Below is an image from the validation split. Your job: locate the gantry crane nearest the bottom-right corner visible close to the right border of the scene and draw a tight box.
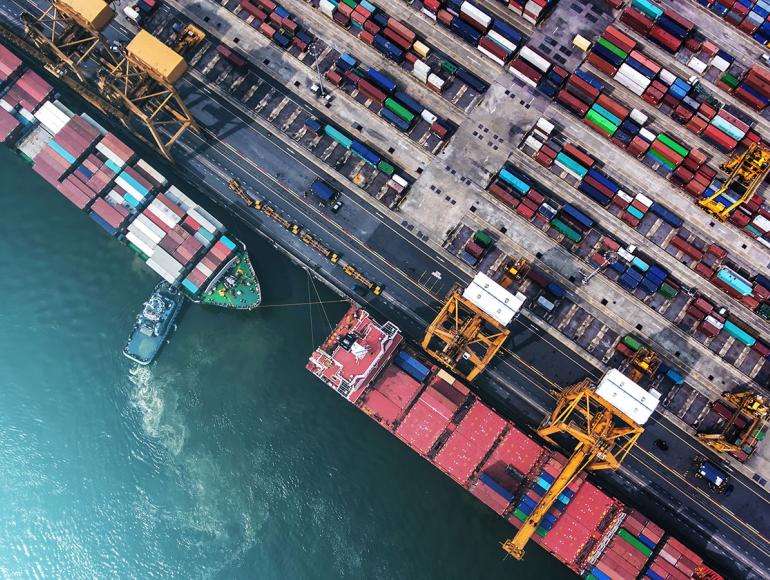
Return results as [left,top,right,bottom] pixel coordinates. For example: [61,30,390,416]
[697,390,770,452]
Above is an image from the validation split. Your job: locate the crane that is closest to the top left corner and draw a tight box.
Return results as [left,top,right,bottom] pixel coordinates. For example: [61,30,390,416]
[9,0,132,116]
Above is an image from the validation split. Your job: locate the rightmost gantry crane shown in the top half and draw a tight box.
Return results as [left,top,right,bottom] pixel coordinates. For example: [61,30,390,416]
[696,147,770,223]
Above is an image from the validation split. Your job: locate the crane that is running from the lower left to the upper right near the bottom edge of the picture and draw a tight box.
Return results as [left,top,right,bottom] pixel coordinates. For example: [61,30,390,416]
[500,369,665,566]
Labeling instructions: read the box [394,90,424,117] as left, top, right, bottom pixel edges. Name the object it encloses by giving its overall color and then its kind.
blue shipping container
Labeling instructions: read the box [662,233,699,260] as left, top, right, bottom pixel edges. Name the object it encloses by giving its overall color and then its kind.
red shipping container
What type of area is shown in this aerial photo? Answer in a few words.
port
